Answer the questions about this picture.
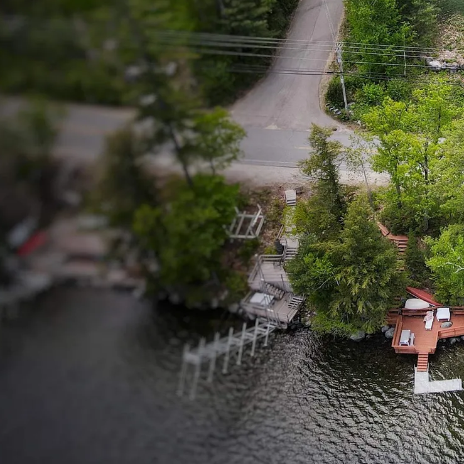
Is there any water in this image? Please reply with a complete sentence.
Yes, the picture does contain water.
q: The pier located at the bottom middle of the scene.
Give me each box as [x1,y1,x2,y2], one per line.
[184,314,273,366]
